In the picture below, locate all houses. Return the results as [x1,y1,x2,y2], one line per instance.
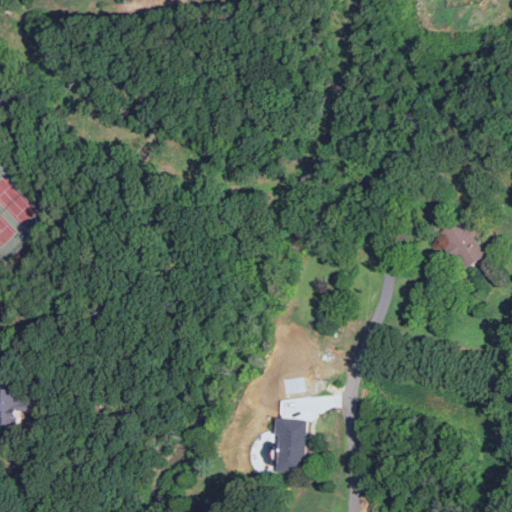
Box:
[440,224,482,267]
[0,390,28,426]
[274,419,306,474]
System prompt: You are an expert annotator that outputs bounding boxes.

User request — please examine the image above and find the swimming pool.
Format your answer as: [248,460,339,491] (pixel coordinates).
[260,442,275,465]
